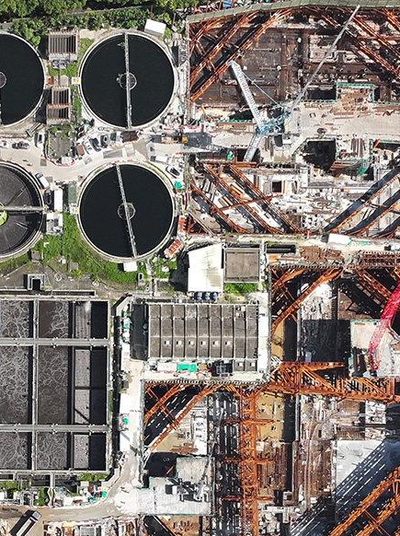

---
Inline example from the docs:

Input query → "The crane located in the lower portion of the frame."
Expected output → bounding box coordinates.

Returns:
[363,277,400,383]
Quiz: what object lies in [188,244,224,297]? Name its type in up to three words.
building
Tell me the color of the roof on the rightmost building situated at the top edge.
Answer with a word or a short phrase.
white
